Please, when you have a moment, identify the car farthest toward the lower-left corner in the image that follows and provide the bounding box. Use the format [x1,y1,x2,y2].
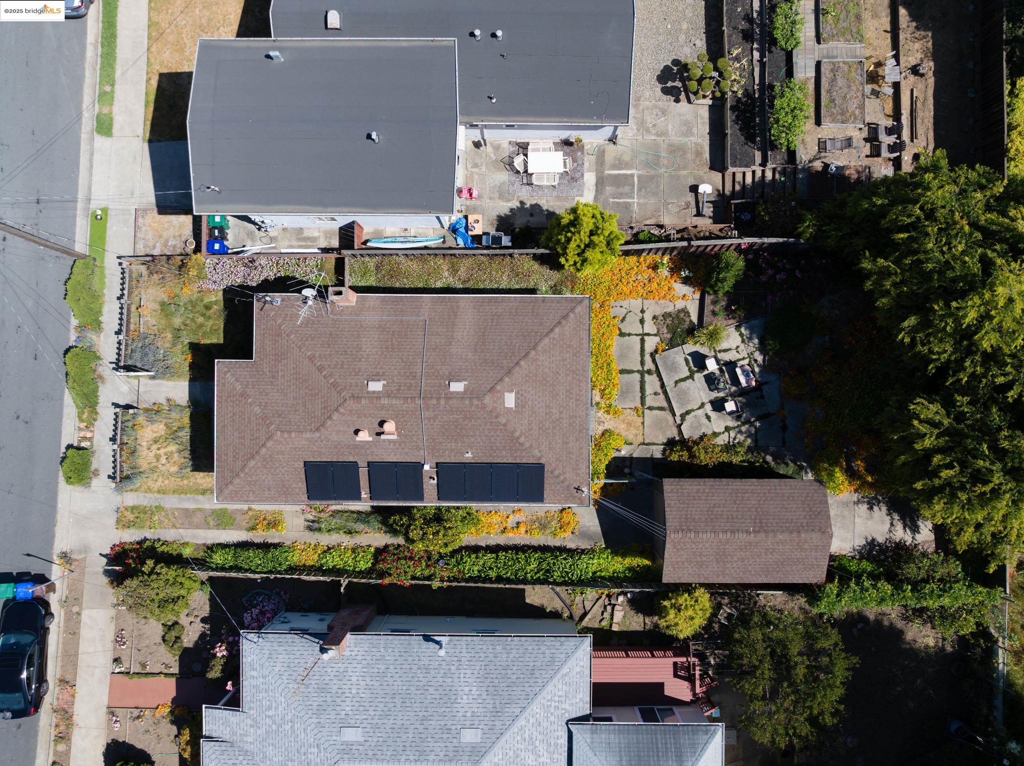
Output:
[0,600,55,726]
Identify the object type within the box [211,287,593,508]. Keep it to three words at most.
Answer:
house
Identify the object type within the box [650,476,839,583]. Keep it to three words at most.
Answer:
building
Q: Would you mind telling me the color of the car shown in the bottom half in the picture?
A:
black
